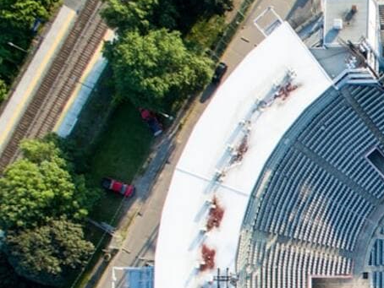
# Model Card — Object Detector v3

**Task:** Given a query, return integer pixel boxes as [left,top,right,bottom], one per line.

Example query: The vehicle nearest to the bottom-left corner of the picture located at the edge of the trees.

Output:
[100,175,132,198]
